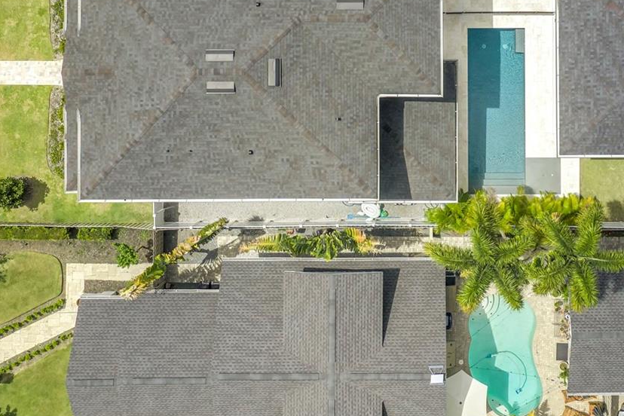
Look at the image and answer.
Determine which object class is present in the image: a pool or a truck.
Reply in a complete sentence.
There is a pool in the scene.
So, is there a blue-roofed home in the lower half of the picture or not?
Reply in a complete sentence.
No, there is no blue-roofed home in the lower half of the picture.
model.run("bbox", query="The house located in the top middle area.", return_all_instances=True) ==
[62,0,459,204]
